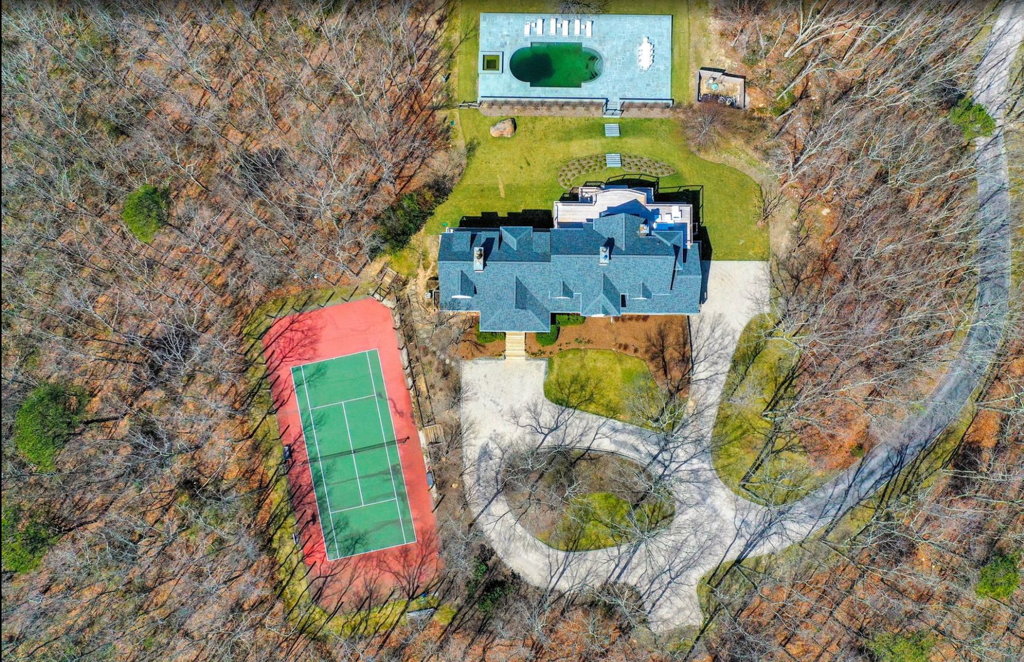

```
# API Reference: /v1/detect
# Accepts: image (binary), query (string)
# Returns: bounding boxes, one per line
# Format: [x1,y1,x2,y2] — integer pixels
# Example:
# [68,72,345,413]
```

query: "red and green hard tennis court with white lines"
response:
[262,297,444,614]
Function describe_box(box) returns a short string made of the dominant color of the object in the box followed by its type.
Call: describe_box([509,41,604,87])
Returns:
green swimming pool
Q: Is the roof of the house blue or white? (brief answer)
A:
blue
